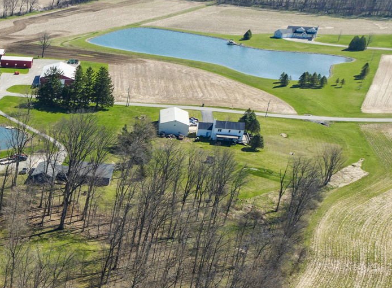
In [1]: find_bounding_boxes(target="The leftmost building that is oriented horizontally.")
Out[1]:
[0,53,33,68]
